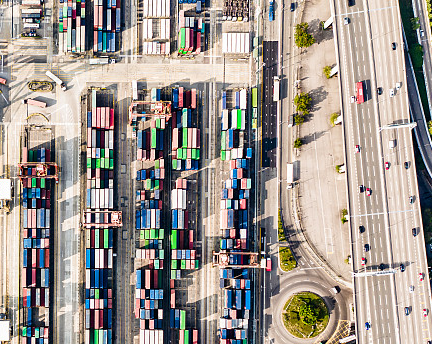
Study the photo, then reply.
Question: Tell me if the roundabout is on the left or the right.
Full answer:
It is on the right.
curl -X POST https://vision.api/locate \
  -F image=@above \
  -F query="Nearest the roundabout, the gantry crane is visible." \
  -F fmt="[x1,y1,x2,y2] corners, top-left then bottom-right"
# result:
[208,249,259,269]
